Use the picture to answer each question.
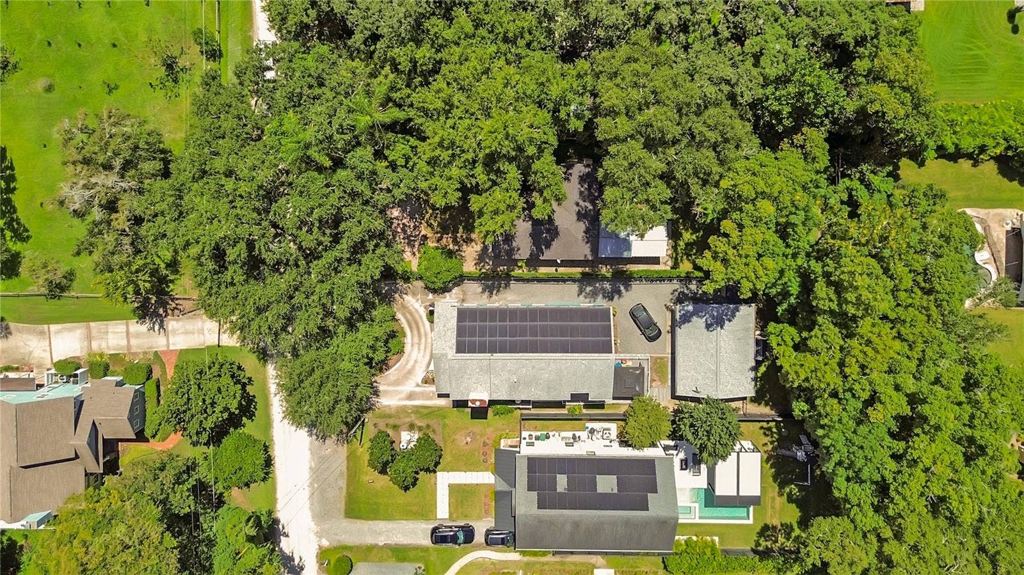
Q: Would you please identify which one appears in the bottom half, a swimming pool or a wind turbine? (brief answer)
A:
swimming pool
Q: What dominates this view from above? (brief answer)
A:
trees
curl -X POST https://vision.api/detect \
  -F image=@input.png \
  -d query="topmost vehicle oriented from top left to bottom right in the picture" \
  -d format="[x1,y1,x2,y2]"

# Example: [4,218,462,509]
[630,302,660,340]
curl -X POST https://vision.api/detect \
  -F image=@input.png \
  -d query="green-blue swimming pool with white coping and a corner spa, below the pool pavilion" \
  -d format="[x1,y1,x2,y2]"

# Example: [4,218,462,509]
[676,488,753,524]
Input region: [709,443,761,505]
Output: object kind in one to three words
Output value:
building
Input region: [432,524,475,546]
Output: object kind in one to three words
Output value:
car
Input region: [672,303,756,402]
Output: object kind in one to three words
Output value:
barn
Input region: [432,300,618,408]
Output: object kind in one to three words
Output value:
house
